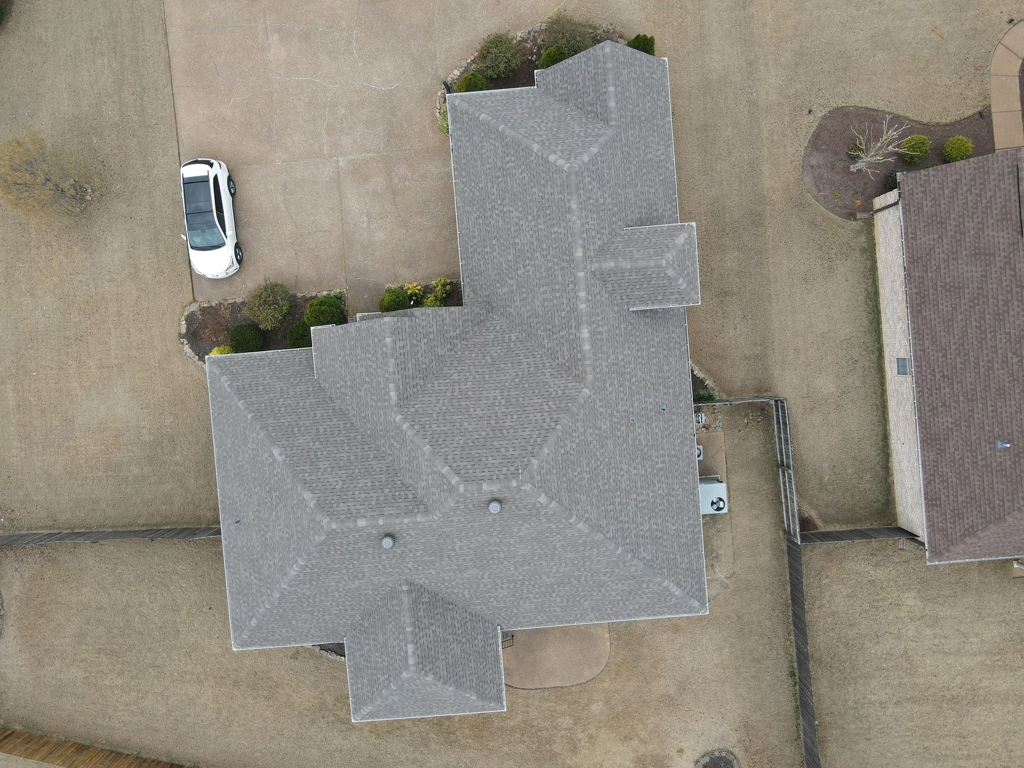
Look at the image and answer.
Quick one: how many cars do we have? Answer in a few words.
1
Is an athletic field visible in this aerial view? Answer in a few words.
No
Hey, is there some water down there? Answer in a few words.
No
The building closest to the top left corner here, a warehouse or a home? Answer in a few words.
home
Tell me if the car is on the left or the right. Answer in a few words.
left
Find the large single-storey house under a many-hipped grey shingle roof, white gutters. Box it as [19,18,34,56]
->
[205,38,708,722]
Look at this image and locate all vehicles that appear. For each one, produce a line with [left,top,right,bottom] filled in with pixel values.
[177,158,242,279]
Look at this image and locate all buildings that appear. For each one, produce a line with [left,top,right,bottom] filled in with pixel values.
[869,149,1024,579]
[205,38,708,722]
